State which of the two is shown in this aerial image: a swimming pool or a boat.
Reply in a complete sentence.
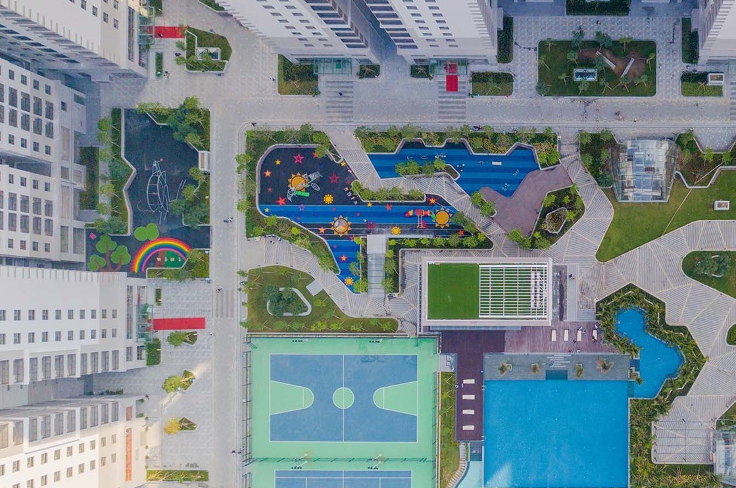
There is a swimming pool in the scene.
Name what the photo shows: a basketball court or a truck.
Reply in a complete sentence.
Looking from above, you can make out a basketball court.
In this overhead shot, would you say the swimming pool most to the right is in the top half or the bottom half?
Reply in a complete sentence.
You can find the swimming pool most to the right in the bottom half.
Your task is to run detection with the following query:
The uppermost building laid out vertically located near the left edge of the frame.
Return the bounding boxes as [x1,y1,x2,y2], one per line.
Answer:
[0,52,96,266]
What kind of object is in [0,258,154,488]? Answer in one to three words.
building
